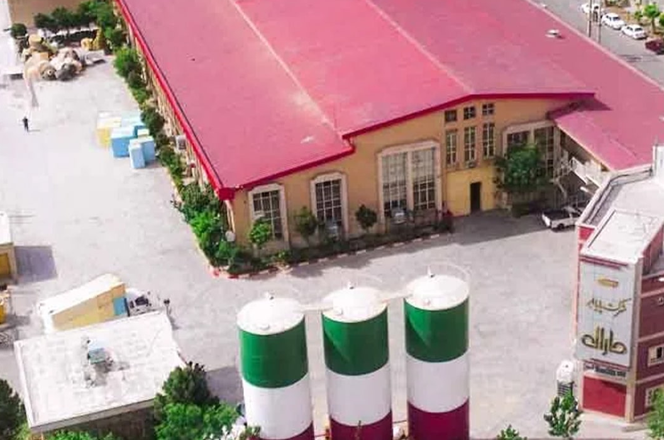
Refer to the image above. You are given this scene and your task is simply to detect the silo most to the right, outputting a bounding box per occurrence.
[405,268,471,440]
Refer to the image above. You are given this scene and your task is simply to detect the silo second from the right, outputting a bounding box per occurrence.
[323,281,393,440]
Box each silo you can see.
[323,281,393,440]
[238,291,313,440]
[405,268,471,440]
